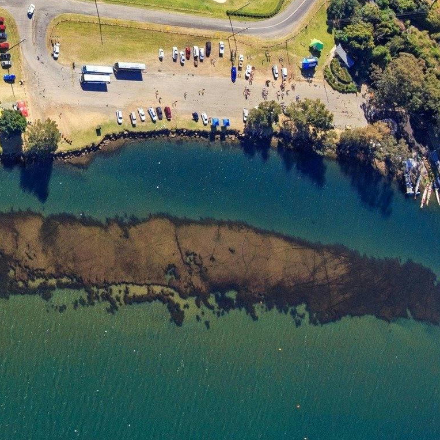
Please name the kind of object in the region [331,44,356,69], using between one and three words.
building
